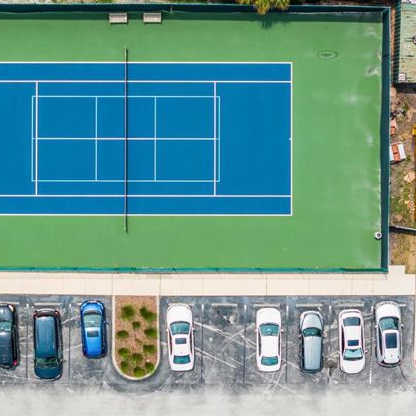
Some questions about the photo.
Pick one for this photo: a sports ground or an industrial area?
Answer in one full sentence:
The picture captures a sports ground.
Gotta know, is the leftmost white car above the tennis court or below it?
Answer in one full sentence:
Looking at the scene, the leftmost white car is located below the tennis court.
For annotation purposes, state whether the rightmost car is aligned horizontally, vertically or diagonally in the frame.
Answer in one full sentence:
The rightmost car is laid out vertically.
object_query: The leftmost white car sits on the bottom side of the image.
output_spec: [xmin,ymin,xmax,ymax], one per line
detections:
[165,303,196,371]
